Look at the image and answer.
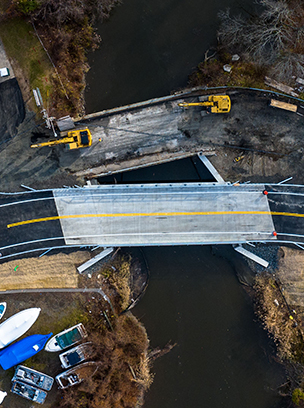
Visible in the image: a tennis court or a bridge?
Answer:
bridge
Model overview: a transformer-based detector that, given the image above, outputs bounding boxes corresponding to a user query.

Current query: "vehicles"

[33,130,93,149]
[179,95,231,113]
